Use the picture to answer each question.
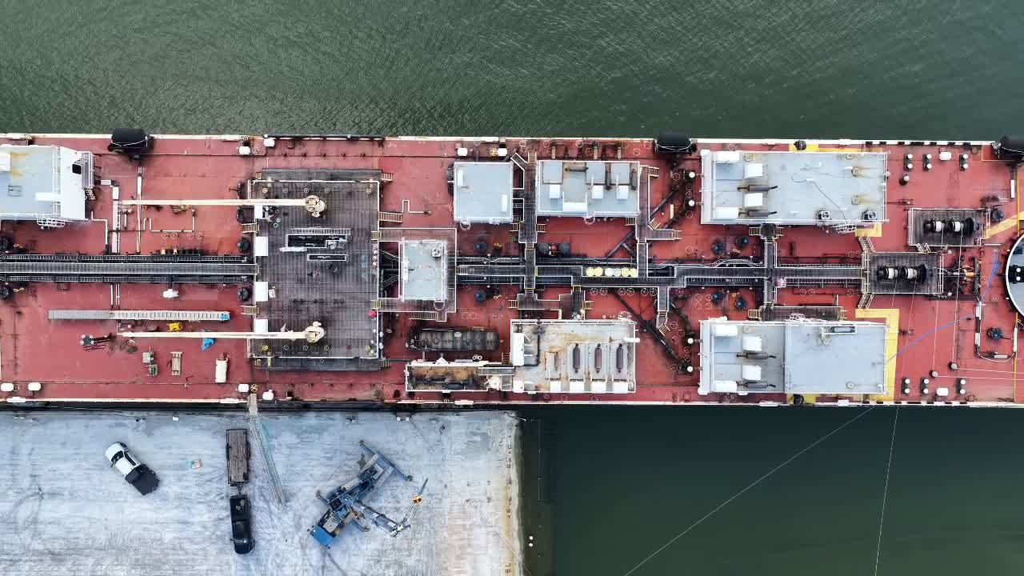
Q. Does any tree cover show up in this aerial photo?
No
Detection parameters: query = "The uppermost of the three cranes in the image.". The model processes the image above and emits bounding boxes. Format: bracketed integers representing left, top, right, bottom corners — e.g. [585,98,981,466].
[115,196,332,220]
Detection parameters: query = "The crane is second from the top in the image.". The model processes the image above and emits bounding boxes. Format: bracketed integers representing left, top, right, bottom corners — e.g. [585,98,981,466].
[115,317,332,341]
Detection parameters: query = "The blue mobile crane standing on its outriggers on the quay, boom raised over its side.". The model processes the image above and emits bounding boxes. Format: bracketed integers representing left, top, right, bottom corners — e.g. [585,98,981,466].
[303,437,427,555]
